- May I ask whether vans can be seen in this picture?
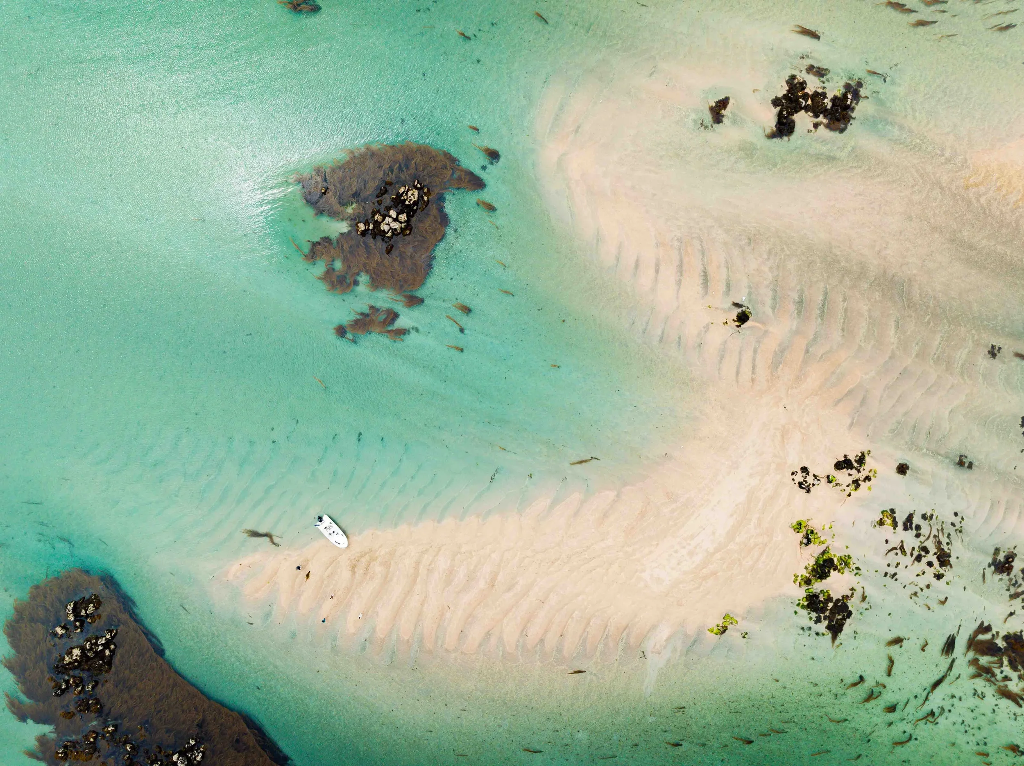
No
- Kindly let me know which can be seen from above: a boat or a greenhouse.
boat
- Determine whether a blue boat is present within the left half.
No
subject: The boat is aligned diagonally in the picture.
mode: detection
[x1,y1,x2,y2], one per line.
[316,513,348,548]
